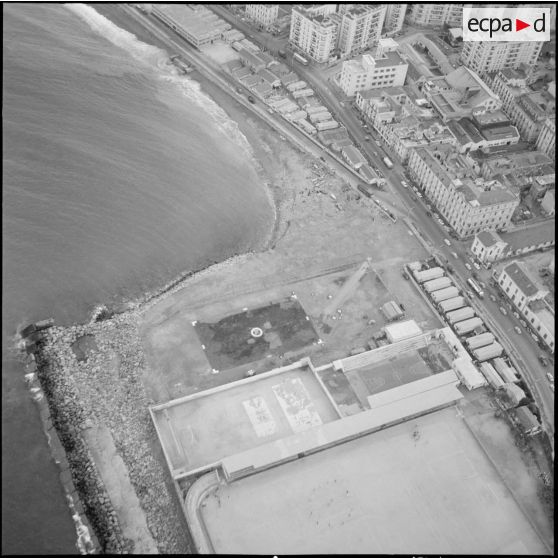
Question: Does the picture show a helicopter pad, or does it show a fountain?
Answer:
helicopter pad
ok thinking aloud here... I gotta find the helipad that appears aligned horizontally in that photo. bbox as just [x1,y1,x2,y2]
[195,298,319,371]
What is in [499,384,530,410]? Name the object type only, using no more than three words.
shed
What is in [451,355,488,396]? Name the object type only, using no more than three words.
building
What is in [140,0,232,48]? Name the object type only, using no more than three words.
building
